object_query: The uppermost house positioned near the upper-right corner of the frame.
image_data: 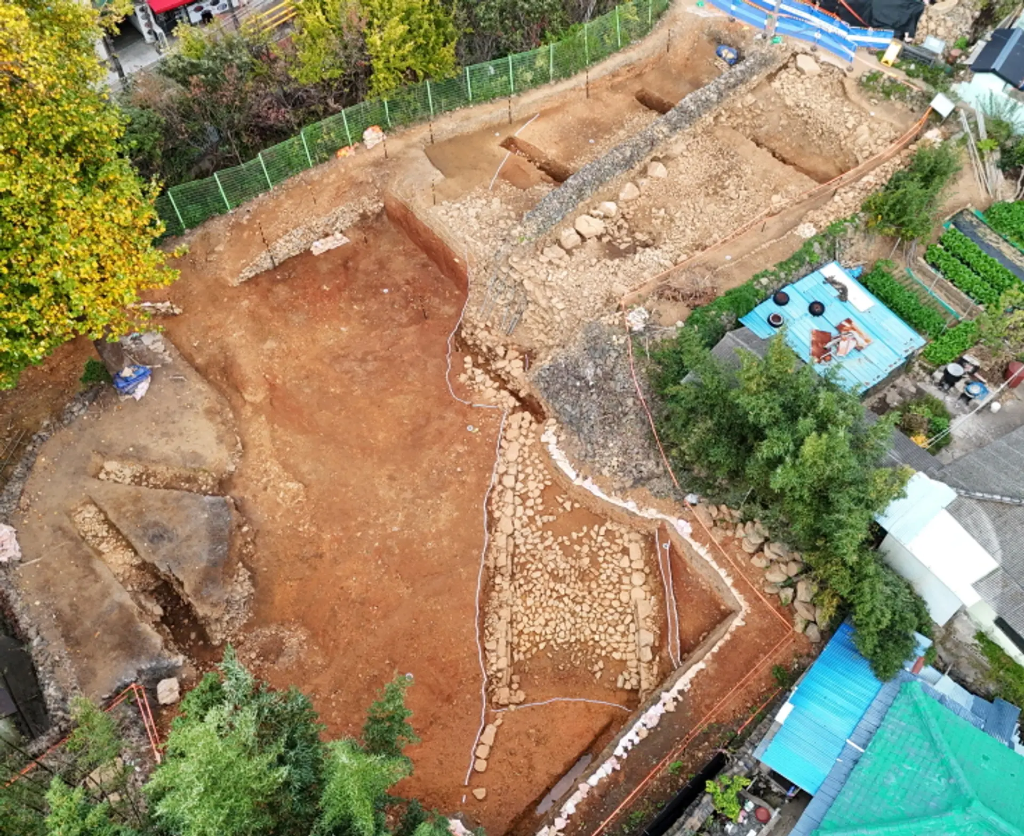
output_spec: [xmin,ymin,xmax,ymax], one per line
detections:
[969,22,1024,110]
